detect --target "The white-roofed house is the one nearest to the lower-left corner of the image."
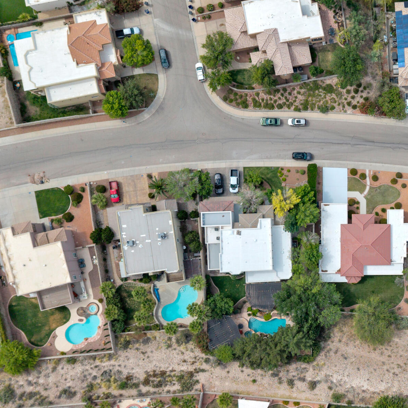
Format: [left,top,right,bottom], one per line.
[0,212,84,310]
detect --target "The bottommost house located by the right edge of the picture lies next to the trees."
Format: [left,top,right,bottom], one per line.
[319,203,408,283]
